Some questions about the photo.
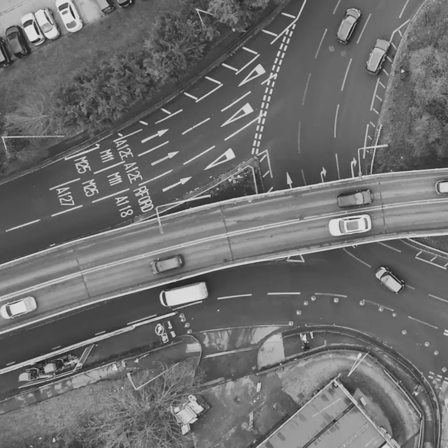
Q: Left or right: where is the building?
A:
right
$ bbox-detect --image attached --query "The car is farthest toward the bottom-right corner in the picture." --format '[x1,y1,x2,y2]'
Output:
[374,264,406,296]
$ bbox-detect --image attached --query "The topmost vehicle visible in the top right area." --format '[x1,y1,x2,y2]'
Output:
[335,8,362,45]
